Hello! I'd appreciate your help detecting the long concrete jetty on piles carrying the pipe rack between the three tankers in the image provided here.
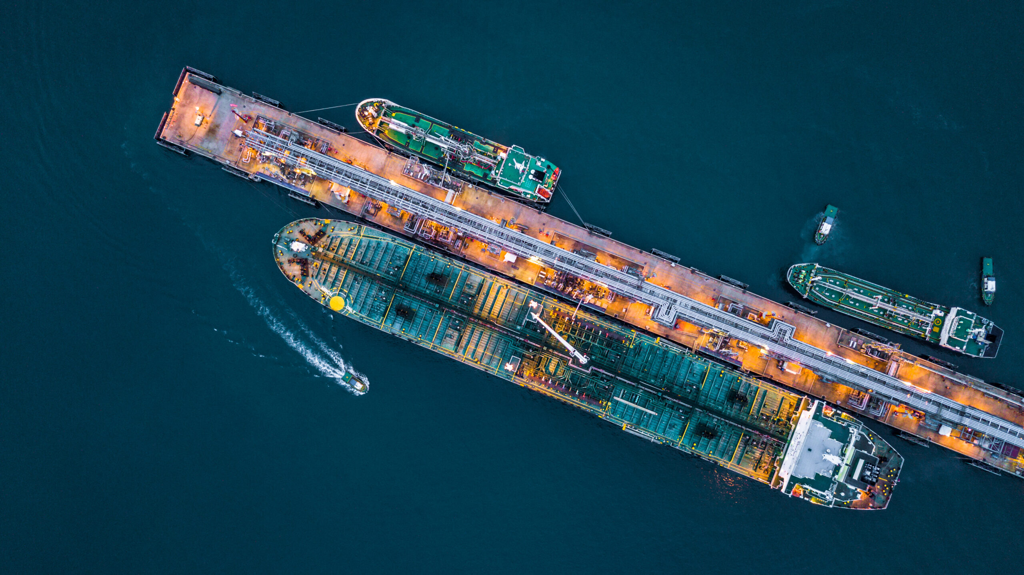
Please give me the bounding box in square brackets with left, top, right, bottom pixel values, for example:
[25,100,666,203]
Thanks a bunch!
[153,65,1024,478]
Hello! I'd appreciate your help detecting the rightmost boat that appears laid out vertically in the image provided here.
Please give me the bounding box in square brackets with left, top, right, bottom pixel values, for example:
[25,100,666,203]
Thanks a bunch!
[980,257,994,305]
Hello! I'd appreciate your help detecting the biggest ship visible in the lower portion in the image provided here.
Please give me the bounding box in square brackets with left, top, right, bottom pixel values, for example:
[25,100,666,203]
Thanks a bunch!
[272,217,904,510]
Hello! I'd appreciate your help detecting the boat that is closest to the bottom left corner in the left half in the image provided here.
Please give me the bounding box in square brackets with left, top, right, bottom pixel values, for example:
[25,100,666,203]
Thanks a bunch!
[341,371,368,393]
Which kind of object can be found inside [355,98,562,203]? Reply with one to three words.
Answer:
ship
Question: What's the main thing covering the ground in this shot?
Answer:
water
